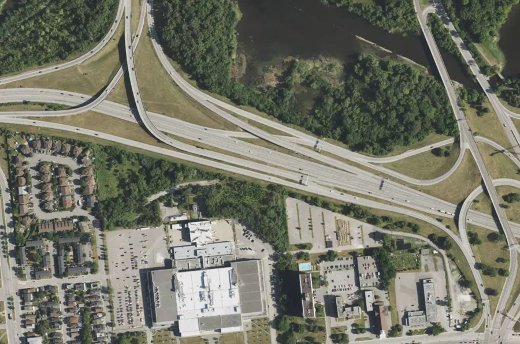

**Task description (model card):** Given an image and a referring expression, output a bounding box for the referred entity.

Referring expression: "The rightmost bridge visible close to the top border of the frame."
[417,16,453,94]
